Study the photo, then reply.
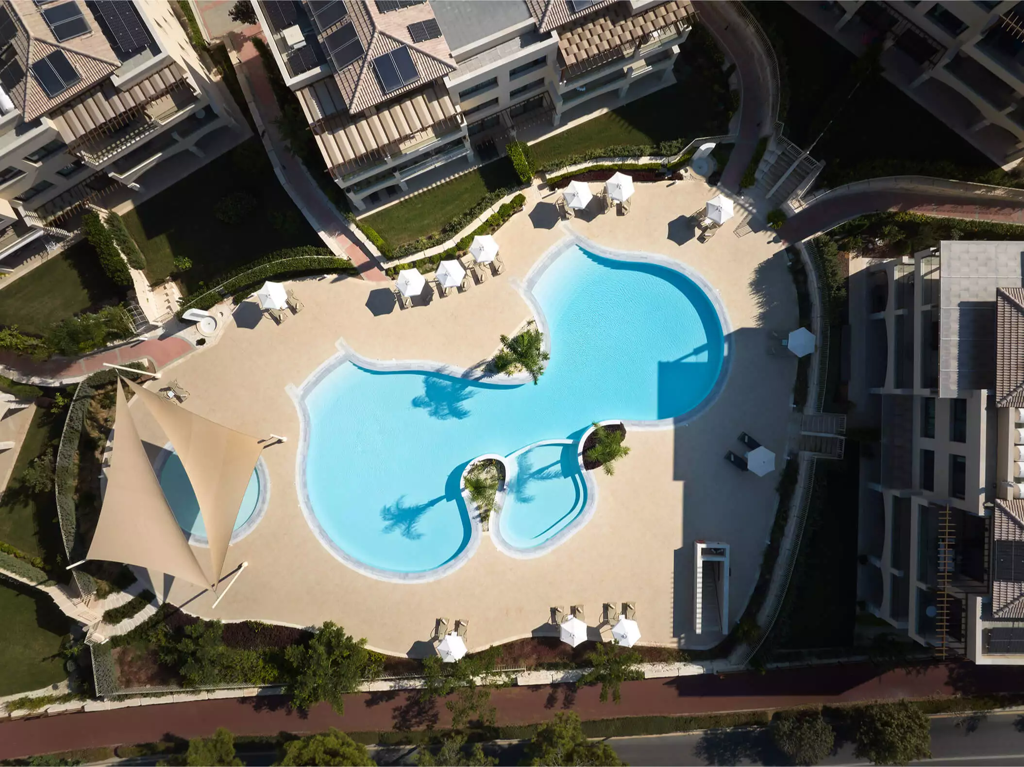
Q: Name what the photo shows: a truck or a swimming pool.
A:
swimming pool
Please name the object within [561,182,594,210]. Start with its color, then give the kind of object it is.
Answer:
white umbrella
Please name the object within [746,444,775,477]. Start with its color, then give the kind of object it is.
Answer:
blue umbrella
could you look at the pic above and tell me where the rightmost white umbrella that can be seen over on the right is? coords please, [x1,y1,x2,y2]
[705,194,733,226]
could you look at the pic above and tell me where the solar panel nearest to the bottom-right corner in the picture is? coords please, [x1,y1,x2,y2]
[991,624,1024,652]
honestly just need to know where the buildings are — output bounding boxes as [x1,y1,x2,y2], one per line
[0,0,254,288]
[854,239,1024,666]
[250,0,701,219]
[785,0,1024,174]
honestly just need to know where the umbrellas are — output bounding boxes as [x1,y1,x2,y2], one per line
[435,260,467,288]
[395,267,426,297]
[705,194,733,226]
[561,182,594,210]
[604,172,635,203]
[258,280,290,311]
[469,234,501,263]
[746,444,775,477]
[610,615,642,645]
[787,326,815,358]
[559,614,587,646]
